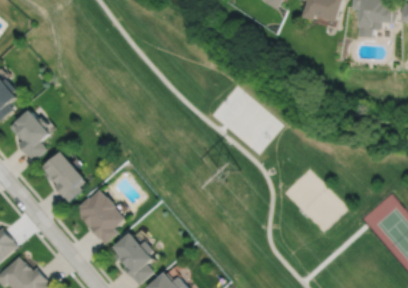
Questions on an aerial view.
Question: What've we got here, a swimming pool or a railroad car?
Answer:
swimming pool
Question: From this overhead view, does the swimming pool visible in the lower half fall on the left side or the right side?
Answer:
left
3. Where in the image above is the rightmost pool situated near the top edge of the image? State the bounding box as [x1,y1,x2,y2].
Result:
[350,8,401,65]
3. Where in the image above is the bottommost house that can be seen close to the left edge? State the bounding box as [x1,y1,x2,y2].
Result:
[0,258,49,288]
